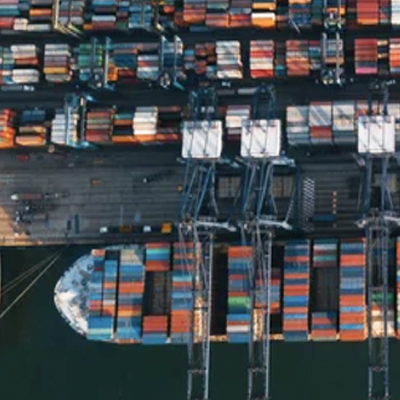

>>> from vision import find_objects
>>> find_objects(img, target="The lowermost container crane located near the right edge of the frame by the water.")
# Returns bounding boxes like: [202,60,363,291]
[352,80,400,400]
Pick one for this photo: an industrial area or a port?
port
